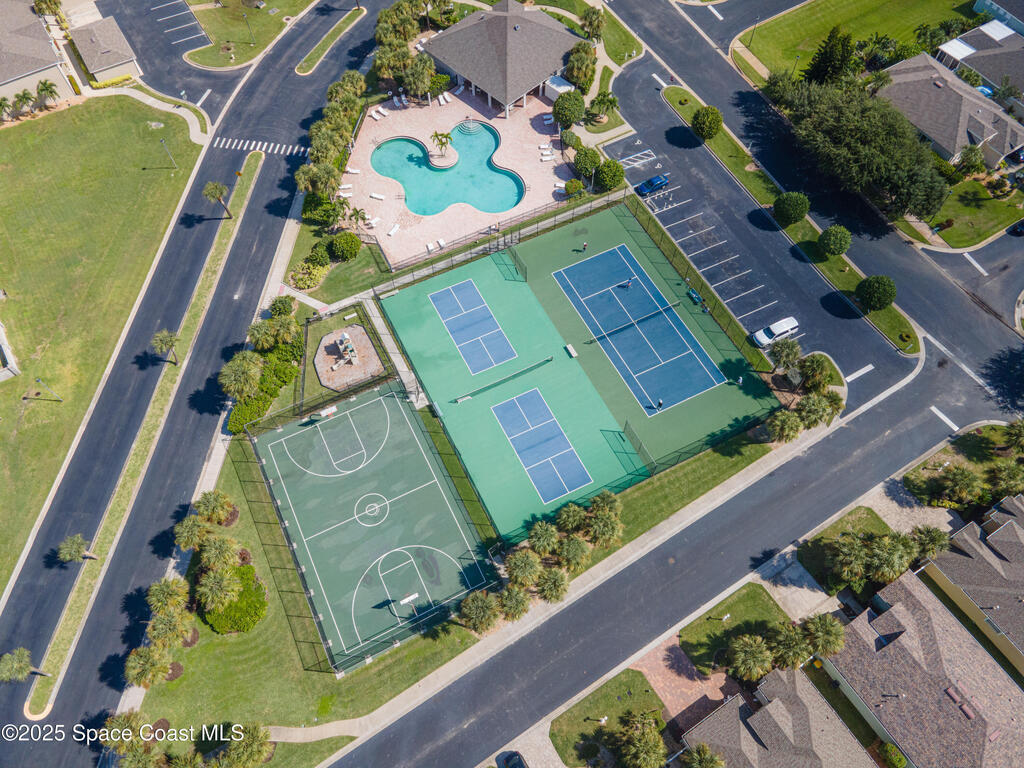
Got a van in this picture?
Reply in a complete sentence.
Yes, I can see a van in this picture.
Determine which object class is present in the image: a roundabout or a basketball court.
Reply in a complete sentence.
The image shows a basketball court.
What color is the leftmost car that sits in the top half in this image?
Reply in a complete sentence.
In this view, the leftmost car that sits in the top half is blue.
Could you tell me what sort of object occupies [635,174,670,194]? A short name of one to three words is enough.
car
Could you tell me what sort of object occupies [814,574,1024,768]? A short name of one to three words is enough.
house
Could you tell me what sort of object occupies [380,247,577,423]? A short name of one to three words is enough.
sports court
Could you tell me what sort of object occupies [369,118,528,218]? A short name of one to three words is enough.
swimming pool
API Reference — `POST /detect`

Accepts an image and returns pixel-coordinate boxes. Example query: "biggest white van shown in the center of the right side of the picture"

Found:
[756,315,800,345]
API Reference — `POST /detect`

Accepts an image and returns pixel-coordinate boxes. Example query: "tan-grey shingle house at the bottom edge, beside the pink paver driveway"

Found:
[681,662,881,768]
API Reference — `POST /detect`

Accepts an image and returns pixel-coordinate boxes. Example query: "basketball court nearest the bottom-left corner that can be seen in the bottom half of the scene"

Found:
[256,382,500,674]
